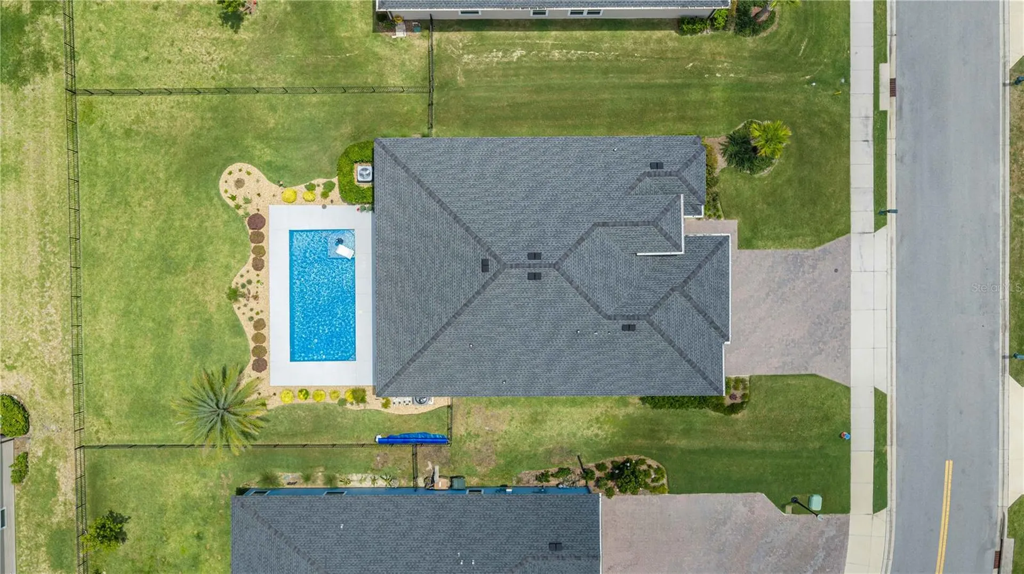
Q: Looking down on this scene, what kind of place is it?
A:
residential area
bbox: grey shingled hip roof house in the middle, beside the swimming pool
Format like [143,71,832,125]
[374,135,728,397]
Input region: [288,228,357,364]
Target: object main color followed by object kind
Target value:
blue swimming pool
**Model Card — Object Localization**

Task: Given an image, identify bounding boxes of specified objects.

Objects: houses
[0,438,16,574]
[374,135,728,397]
[230,488,601,574]
[375,0,731,23]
